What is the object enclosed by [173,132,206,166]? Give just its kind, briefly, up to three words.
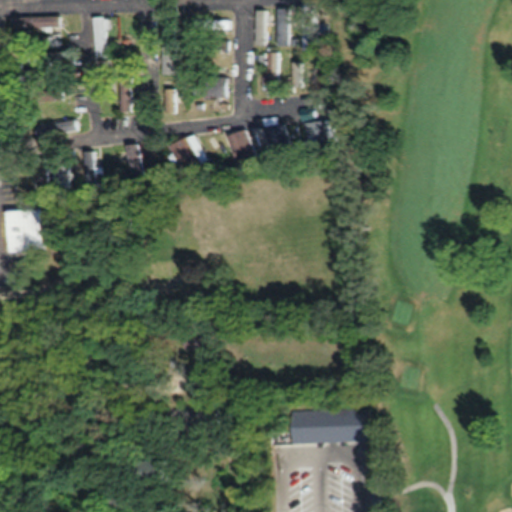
house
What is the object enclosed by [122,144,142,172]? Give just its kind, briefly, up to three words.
house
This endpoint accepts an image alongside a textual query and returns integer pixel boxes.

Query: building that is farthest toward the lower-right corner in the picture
[291,410,360,444]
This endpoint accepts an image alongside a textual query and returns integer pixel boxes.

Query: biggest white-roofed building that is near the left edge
[3,210,44,253]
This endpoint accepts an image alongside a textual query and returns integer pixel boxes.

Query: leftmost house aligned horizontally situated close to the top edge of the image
[18,14,62,34]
